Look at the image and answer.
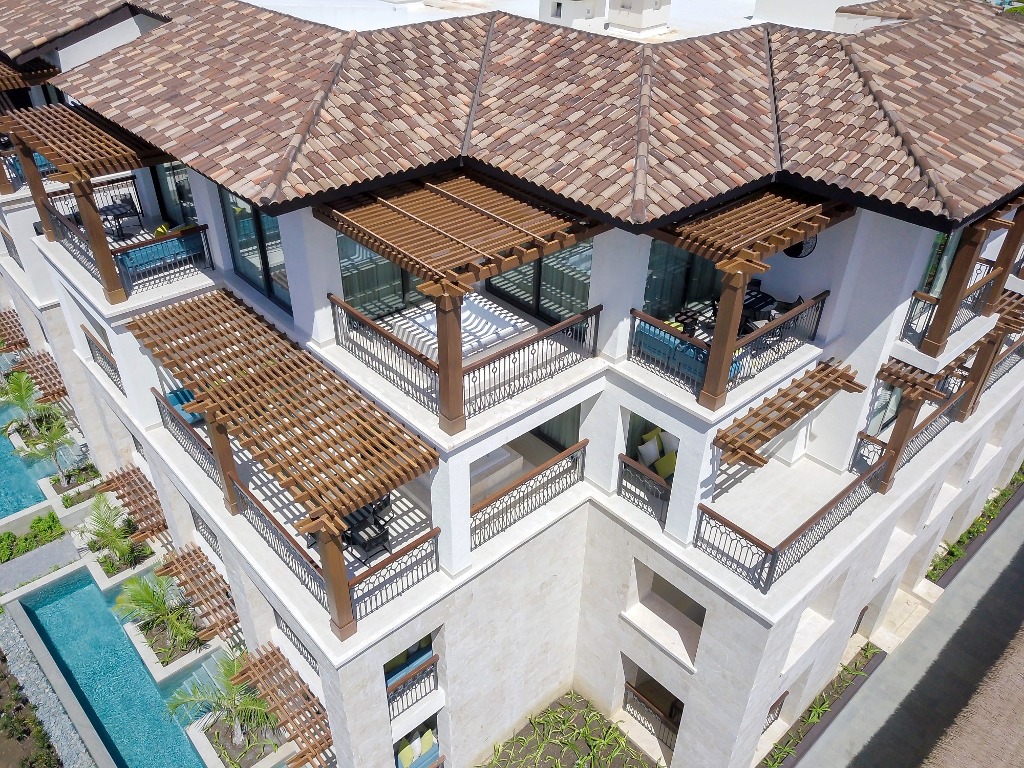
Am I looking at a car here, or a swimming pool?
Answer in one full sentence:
This aerial view contains a swimming pool.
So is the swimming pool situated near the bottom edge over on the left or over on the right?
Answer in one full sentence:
It is on the left.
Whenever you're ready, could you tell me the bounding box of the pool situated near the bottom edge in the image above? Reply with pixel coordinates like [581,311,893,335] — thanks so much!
[37,568,237,768]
